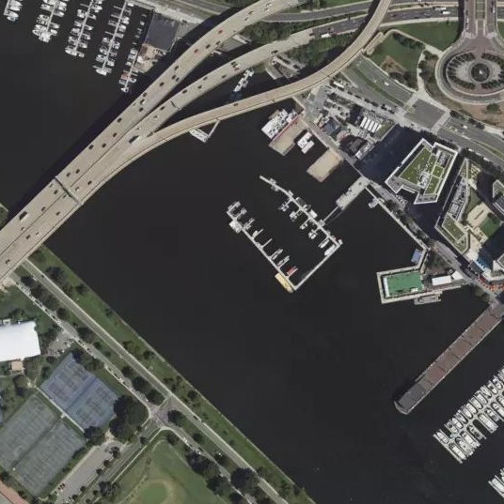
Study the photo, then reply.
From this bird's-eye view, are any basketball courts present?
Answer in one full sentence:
No, there isn't any basketball court down there.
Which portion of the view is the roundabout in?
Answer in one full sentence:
The roundabout is located in the top right region of the scene.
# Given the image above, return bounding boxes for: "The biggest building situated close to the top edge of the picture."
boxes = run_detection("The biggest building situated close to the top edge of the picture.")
[145,13,180,51]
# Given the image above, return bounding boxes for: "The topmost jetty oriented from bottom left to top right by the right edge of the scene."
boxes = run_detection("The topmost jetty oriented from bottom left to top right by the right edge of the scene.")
[385,303,503,417]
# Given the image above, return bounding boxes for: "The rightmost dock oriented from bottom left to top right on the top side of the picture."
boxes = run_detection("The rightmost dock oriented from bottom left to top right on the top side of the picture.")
[336,177,373,208]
